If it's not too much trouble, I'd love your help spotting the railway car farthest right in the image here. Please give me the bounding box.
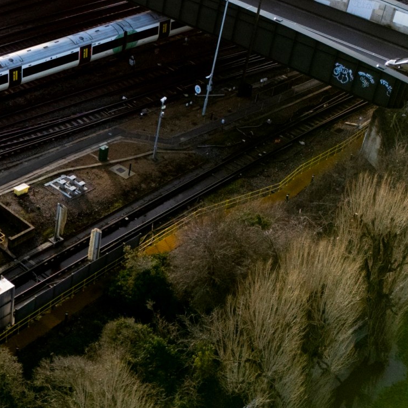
[111,9,199,51]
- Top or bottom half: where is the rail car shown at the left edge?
top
